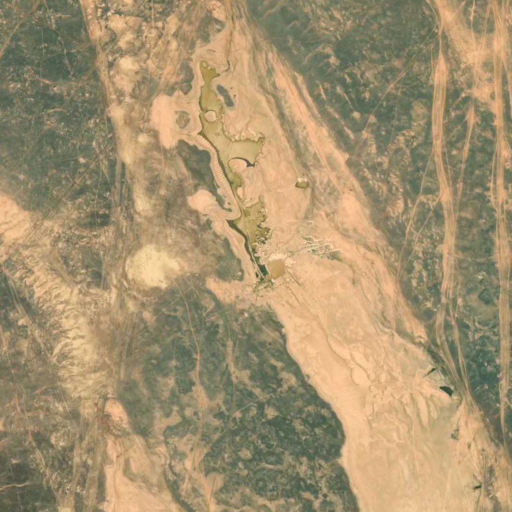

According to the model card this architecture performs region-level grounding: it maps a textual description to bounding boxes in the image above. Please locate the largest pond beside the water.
[199,61,264,199]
